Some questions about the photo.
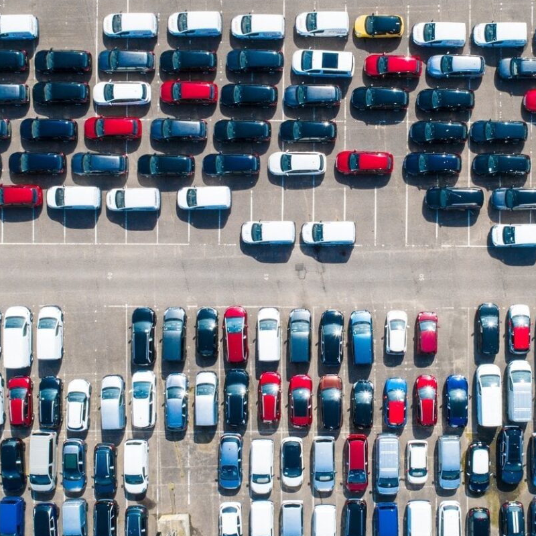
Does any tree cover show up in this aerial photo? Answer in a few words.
No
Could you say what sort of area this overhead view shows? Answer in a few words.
parking lot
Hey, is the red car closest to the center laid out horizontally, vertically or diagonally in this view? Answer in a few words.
vertically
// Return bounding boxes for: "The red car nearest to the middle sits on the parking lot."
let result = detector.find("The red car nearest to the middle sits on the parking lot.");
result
[221,305,250,362]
